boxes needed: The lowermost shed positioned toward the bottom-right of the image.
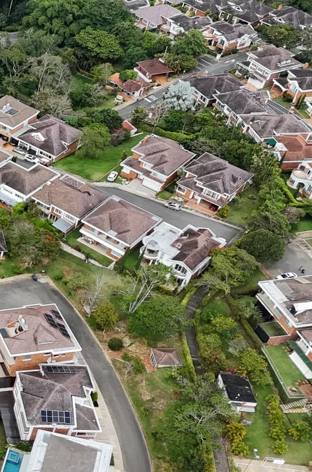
[215,374,258,411]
